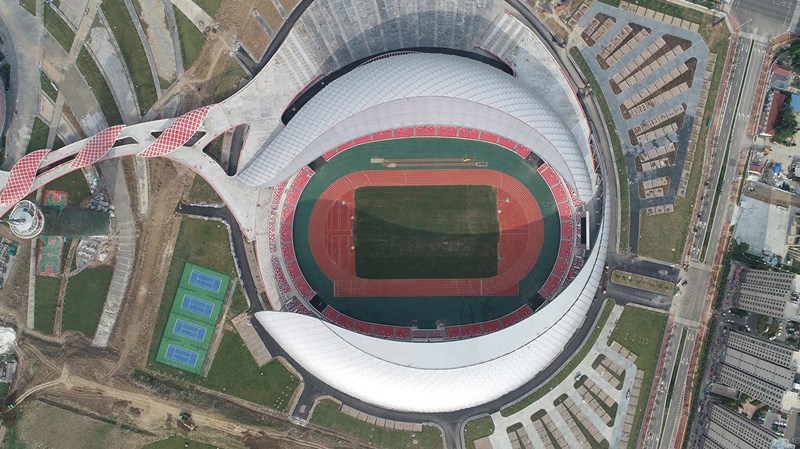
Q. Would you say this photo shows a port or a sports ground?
sports ground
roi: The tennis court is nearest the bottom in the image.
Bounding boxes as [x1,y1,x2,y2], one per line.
[156,337,208,376]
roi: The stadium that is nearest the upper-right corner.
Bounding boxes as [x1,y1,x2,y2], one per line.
[199,0,612,415]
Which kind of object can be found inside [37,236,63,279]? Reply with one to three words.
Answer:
basketball court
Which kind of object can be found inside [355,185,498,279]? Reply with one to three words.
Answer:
sports field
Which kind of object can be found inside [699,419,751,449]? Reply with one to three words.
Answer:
building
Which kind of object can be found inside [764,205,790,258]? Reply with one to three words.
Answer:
building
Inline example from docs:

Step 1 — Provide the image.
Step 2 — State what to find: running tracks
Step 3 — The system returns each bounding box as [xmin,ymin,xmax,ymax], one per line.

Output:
[294,137,559,326]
